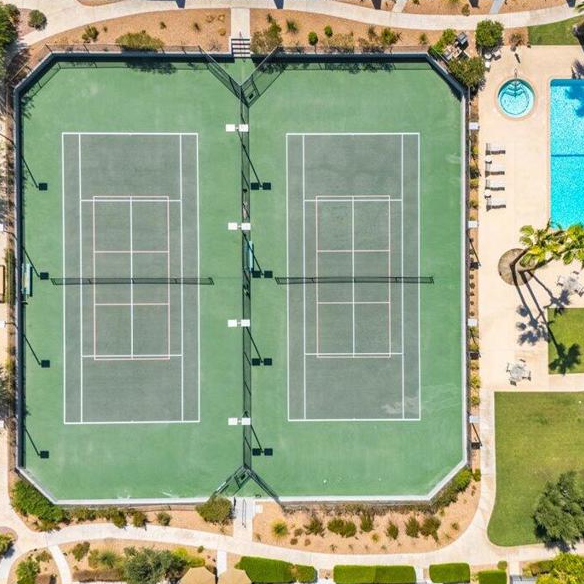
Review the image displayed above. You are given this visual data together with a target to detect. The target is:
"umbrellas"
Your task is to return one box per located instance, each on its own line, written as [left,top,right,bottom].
[181,566,215,584]
[219,567,251,584]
